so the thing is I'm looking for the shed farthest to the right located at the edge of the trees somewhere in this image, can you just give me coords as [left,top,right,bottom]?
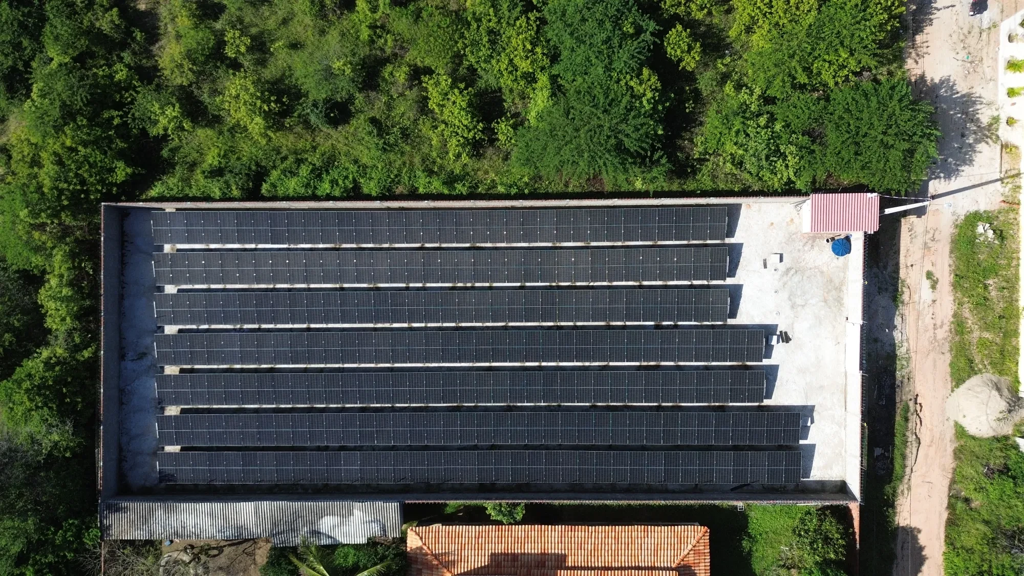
[802,193,879,236]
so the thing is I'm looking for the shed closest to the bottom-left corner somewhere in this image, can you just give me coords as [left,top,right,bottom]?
[104,504,412,547]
